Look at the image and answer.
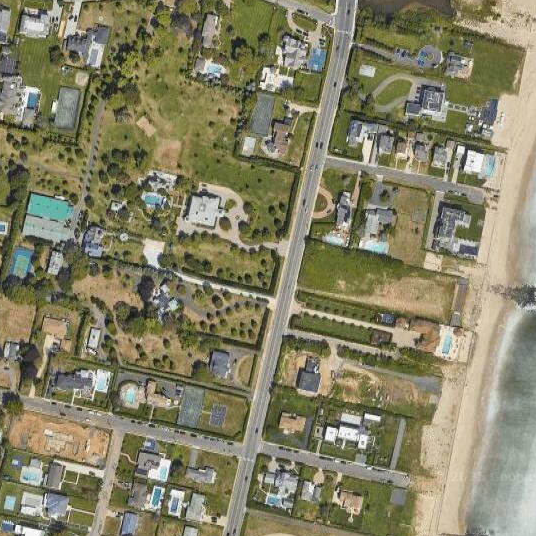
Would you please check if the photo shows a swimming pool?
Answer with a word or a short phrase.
Yes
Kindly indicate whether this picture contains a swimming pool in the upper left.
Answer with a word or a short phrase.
Yes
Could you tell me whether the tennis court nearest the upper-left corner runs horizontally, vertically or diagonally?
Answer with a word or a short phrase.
vertically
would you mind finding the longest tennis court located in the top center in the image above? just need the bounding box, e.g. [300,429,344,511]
[251,92,274,135]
